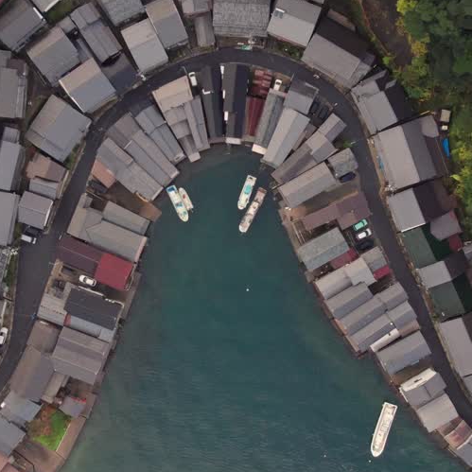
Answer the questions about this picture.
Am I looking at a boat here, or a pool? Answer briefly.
boat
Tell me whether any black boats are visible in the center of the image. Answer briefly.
No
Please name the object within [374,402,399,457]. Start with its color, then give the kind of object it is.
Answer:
white boat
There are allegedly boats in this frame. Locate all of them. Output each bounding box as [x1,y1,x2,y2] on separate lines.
[180,188,193,212]
[241,187,266,231]
[239,160,257,208]
[374,402,399,457]
[167,175,187,220]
